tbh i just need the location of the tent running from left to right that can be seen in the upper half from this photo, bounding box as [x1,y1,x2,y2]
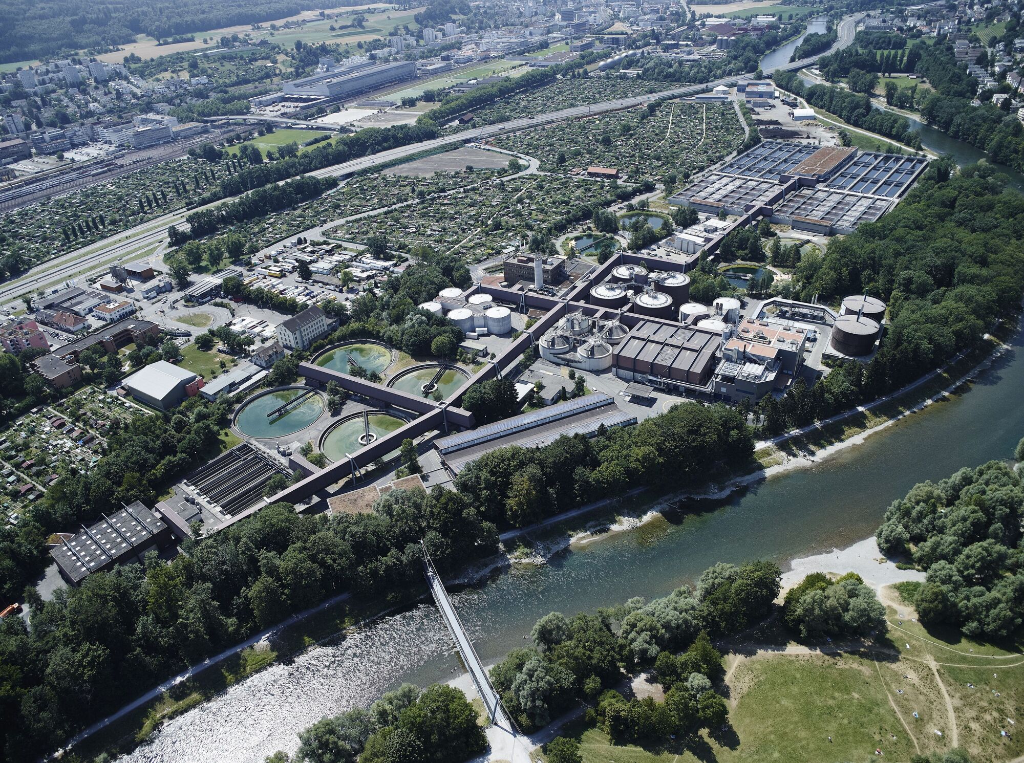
[785,106,819,119]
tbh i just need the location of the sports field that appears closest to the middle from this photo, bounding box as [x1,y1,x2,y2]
[381,148,527,176]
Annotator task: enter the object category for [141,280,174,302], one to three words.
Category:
building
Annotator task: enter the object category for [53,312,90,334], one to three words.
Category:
house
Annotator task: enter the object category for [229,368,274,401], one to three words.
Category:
building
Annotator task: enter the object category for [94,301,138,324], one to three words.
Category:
house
